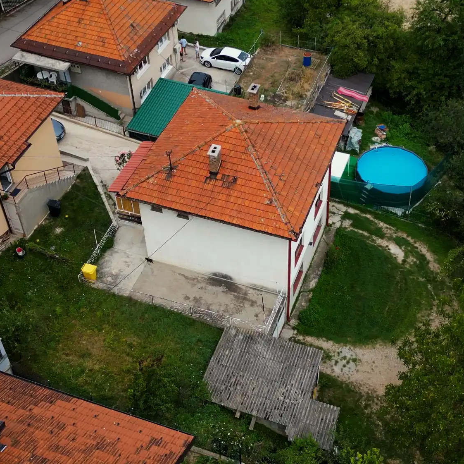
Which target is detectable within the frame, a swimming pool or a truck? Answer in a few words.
swimming pool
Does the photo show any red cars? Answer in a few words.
No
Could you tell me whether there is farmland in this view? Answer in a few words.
No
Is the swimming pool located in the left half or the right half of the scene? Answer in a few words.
right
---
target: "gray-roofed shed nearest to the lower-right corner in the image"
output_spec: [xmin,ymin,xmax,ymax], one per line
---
[204,327,340,454]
